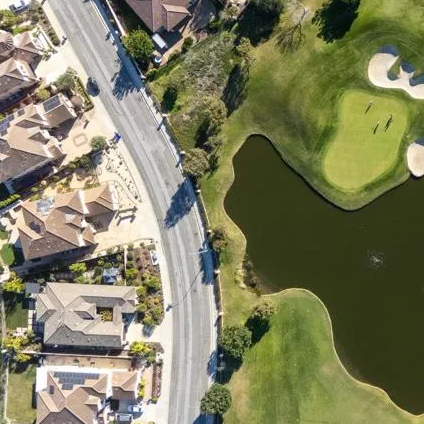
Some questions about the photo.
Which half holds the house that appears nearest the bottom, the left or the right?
left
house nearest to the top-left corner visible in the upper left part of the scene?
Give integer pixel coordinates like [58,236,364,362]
[0,24,46,113]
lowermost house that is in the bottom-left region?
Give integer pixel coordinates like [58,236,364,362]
[35,369,140,424]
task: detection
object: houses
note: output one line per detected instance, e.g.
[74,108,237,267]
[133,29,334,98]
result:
[0,94,78,188]
[10,184,119,267]
[35,369,140,424]
[0,24,46,113]
[122,0,192,30]
[24,282,137,350]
